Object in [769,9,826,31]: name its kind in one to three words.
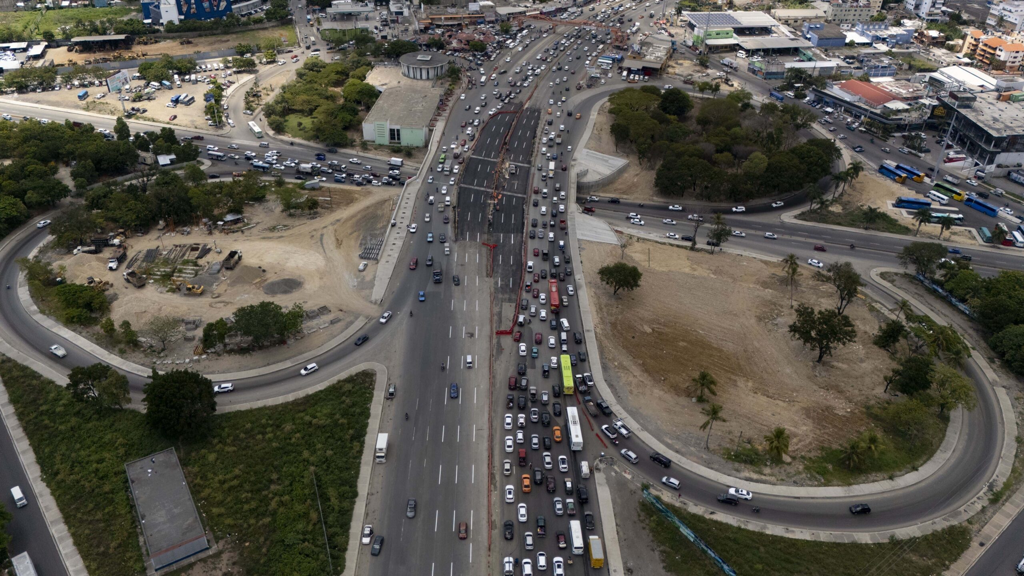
building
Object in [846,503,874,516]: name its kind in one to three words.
vehicle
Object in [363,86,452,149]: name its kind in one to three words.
building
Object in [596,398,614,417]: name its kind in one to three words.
vehicle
